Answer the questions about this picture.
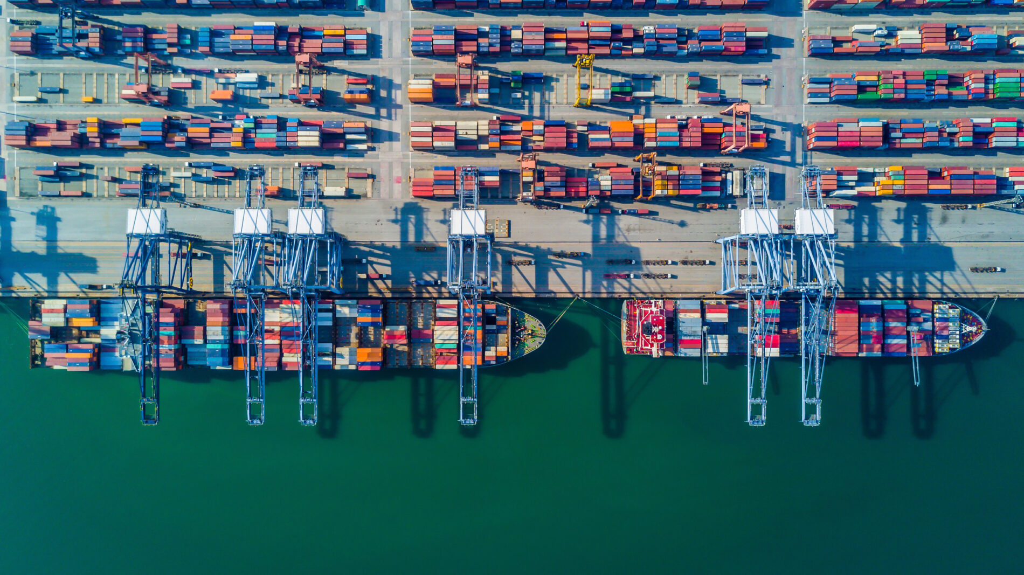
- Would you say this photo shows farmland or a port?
port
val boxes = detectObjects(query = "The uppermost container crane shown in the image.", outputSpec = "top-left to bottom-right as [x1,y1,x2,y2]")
[51,0,97,58]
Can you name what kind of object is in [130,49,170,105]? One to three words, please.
container crane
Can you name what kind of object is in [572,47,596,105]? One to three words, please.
container crane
